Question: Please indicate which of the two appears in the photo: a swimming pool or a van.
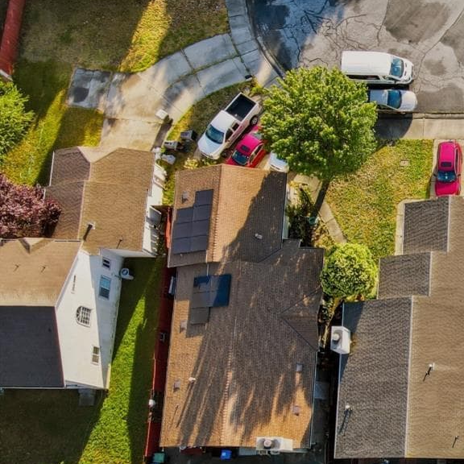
van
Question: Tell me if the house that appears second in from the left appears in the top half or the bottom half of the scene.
bottom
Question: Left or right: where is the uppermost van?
right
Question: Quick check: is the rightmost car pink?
Yes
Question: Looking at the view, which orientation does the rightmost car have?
from top to bottom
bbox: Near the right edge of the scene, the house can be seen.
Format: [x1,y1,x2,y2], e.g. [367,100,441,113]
[331,196,464,459]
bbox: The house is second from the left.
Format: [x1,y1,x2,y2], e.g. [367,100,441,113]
[159,164,329,450]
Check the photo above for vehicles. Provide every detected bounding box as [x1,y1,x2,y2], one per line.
[434,143,460,192]
[228,118,274,166]
[338,48,412,84]
[366,87,421,115]
[200,91,263,158]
